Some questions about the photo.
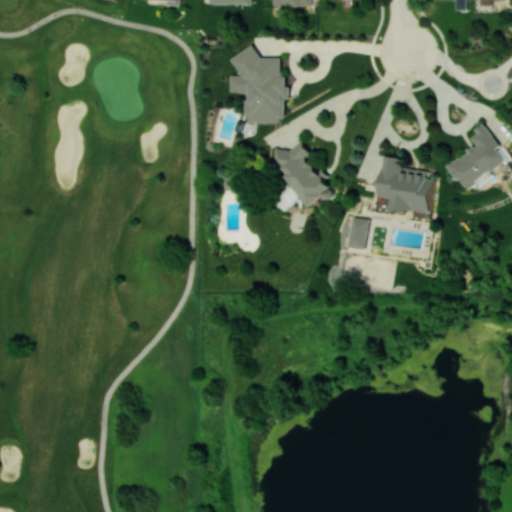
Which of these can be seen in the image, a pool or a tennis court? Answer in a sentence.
The image shows a pool.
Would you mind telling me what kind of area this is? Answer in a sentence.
The picture captures a golf course.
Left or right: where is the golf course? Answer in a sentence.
The golf course is on the left side of the image.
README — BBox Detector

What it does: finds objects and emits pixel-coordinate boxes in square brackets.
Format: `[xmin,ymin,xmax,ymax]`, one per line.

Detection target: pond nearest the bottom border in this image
[260,349,500,512]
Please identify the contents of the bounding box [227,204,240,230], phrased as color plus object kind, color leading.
blue swimming pool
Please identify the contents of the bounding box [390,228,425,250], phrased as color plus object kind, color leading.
blue swimming pool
